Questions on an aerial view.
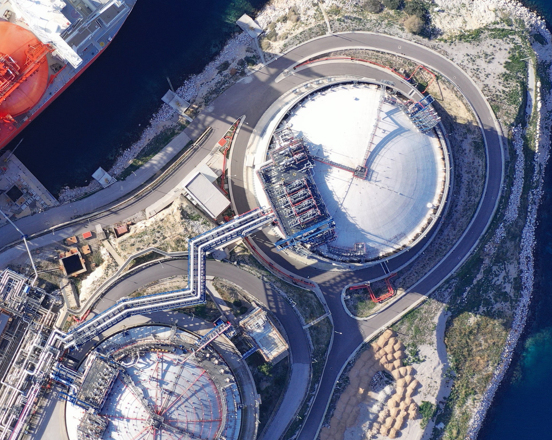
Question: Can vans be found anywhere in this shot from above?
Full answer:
No, I can't see a single van in this photo.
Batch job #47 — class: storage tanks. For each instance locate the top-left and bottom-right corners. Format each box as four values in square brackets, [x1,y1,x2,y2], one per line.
[253,77,451,265]
[61,319,246,440]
